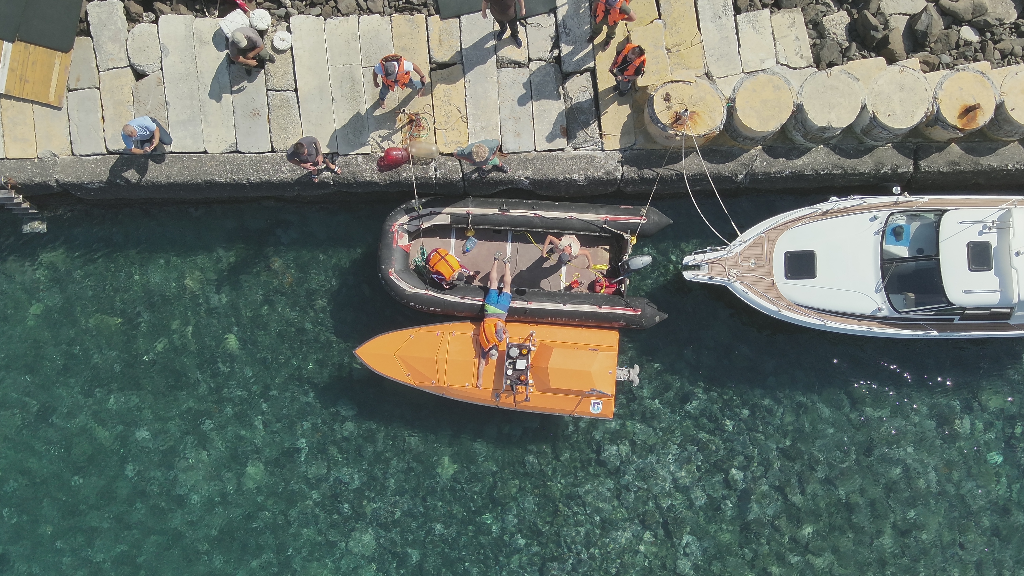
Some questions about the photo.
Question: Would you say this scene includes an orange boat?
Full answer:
Yes, an orange boat appears in the view.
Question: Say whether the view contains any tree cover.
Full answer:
No, the picture contains no tree cover.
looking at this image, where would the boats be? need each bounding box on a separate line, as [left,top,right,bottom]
[378,194,673,330]
[353,319,640,422]
[683,194,1024,342]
